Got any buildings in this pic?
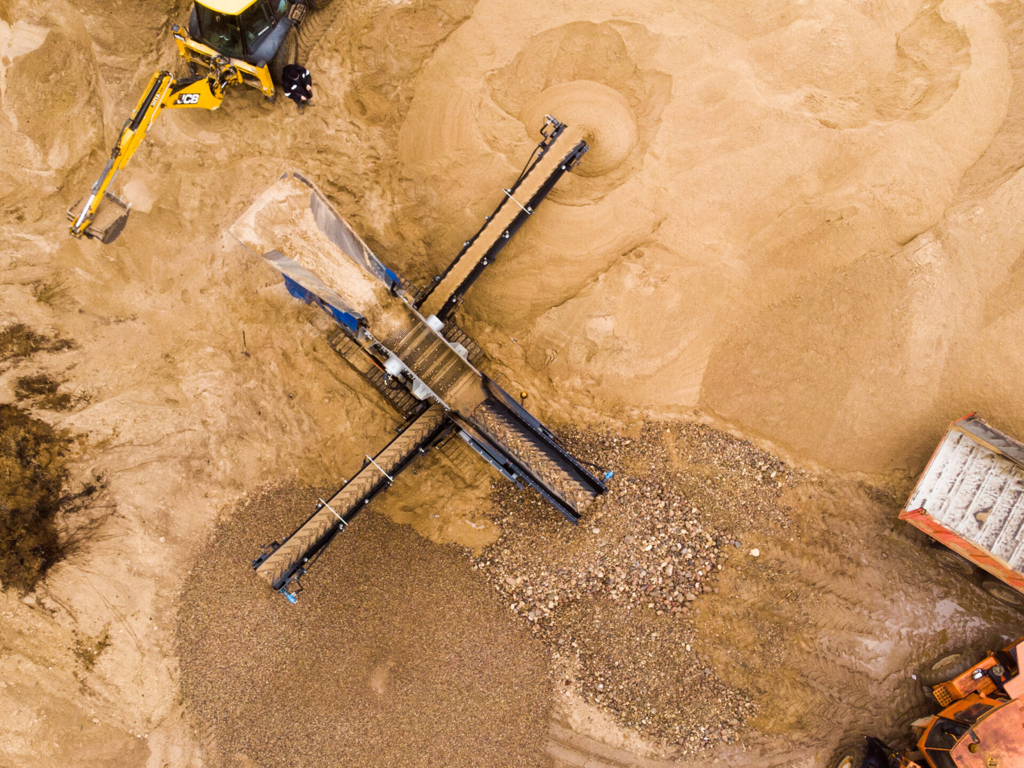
No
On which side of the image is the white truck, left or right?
right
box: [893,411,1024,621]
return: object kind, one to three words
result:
truck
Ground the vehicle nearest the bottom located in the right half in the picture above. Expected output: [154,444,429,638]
[820,619,1024,768]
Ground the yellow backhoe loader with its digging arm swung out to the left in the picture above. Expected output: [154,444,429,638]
[66,0,344,238]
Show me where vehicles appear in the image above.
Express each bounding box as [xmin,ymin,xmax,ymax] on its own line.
[820,619,1024,768]
[893,411,1024,621]
[66,0,344,238]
